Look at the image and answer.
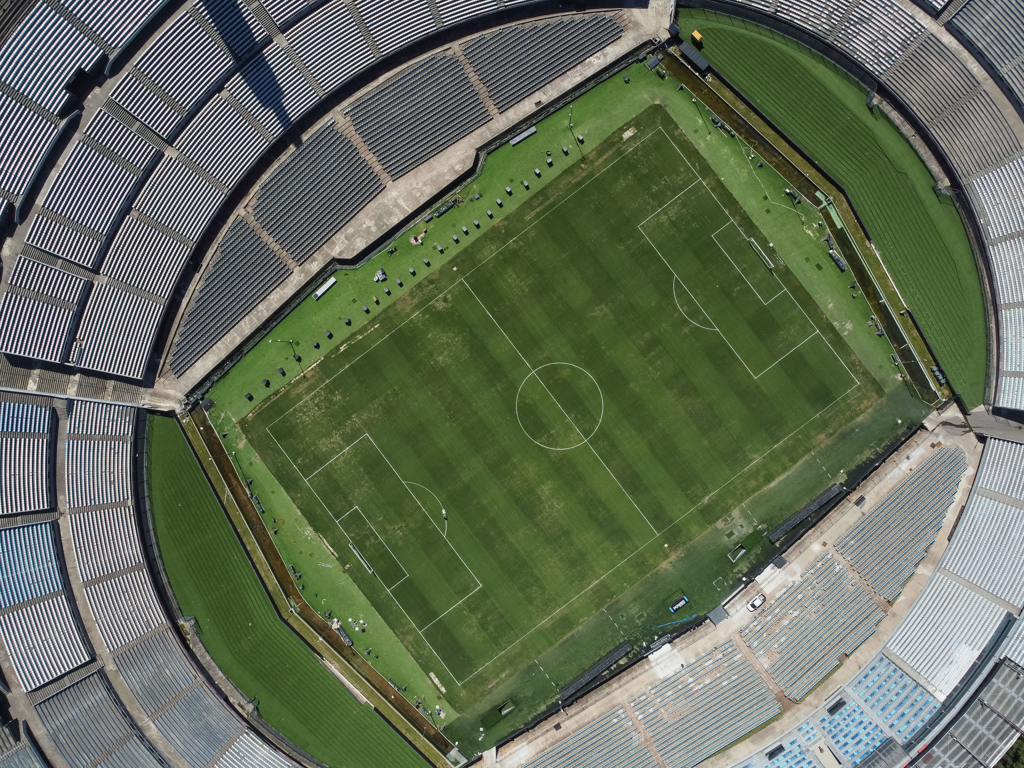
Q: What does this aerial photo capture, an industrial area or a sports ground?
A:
sports ground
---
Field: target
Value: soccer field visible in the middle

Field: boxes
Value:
[237,104,886,714]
